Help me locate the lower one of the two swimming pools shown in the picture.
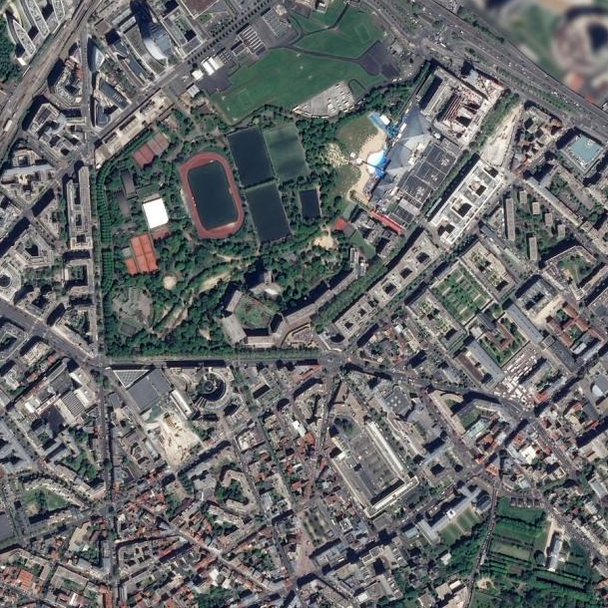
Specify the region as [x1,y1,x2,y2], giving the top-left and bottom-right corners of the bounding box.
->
[365,147,387,179]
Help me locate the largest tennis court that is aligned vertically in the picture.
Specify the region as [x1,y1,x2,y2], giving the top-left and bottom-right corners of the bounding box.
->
[132,233,158,275]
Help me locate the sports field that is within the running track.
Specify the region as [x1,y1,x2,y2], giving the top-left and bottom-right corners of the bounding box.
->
[188,161,237,229]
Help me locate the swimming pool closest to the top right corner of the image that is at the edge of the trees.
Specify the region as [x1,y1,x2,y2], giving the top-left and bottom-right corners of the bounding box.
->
[368,110,400,141]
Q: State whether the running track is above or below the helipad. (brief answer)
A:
below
